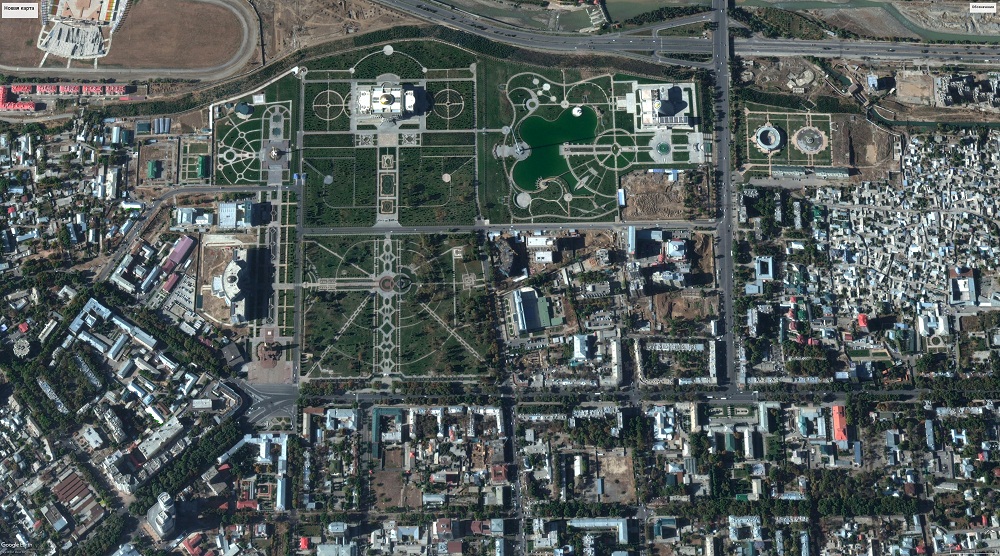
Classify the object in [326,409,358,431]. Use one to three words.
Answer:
house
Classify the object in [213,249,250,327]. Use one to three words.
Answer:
building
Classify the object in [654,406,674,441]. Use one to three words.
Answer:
house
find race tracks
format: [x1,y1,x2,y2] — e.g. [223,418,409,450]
[0,0,259,83]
